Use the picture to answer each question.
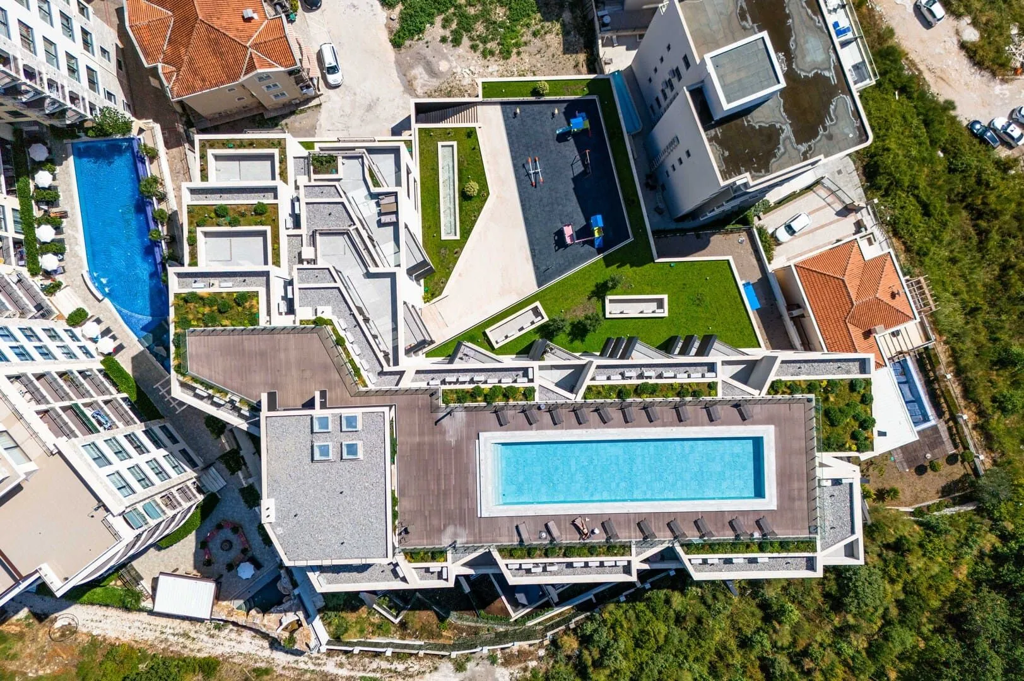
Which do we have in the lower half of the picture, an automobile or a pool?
pool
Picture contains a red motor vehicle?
No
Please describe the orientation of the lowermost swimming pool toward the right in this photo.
from left to right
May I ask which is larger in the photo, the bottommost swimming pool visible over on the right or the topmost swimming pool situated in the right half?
the bottommost swimming pool visible over on the right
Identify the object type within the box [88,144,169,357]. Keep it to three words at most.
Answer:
swimming pool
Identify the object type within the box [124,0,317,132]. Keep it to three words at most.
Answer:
house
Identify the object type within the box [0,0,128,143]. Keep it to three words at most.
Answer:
building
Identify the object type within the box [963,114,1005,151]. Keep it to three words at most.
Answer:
car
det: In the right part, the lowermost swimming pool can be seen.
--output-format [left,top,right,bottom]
[510,437,759,501]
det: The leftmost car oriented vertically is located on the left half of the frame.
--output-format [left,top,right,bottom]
[316,37,344,87]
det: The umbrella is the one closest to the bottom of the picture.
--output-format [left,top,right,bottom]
[237,559,257,579]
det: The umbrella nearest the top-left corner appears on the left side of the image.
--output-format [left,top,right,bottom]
[30,142,56,162]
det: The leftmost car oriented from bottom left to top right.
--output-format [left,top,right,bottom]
[773,209,817,243]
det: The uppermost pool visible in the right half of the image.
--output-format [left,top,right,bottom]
[614,74,640,137]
